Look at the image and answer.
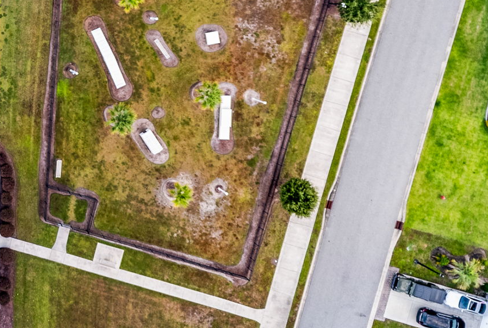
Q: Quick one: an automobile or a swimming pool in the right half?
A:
automobile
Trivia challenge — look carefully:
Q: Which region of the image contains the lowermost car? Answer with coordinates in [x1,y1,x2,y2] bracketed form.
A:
[418,307,466,328]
